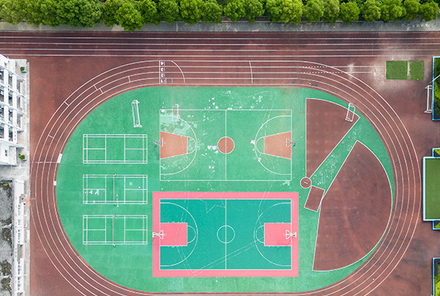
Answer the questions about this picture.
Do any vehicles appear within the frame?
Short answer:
No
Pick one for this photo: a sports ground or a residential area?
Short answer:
sports ground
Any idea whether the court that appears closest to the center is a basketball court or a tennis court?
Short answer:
basketball court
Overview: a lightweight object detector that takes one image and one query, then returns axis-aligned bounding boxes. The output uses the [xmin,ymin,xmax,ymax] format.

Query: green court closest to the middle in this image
[160,109,291,180]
